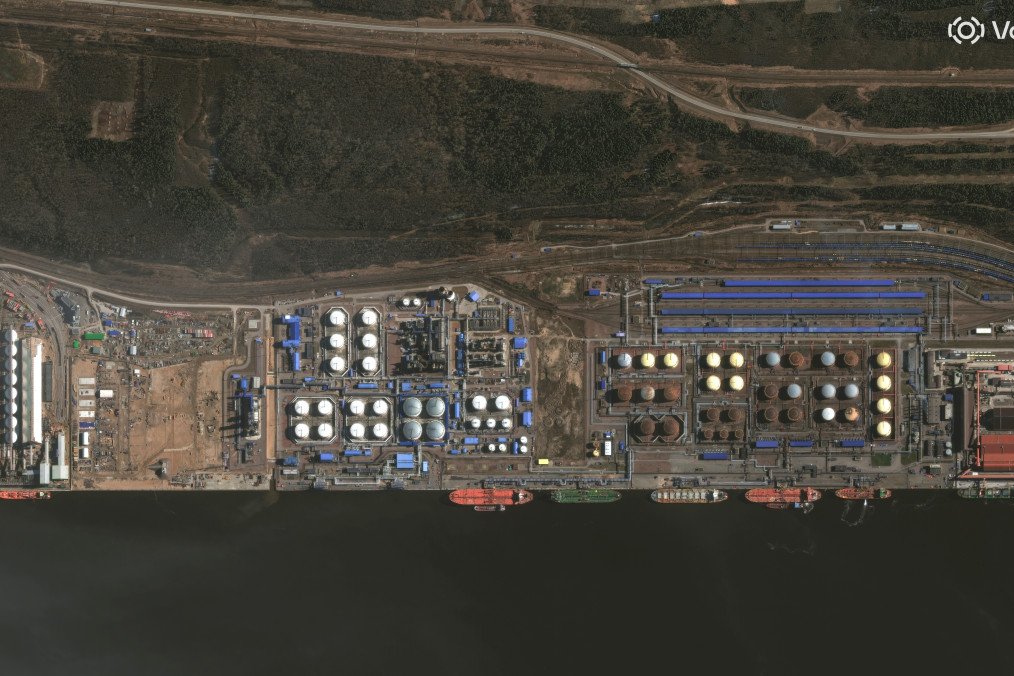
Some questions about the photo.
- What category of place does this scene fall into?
port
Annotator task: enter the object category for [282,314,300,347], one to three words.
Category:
building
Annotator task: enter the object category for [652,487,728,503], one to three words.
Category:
ship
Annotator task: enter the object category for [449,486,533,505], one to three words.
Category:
ship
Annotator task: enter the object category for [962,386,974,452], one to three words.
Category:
shed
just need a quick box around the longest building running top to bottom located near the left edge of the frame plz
[22,338,42,443]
